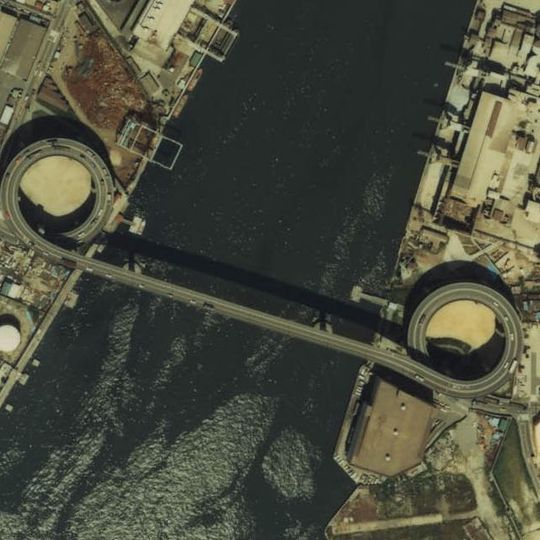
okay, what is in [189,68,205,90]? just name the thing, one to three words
vessel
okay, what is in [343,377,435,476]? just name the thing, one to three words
building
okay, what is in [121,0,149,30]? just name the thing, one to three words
shed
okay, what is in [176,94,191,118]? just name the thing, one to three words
vessel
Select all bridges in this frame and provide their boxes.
[0,133,540,417]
